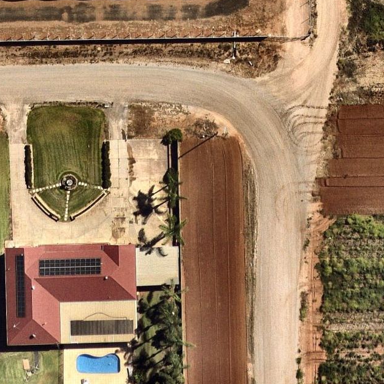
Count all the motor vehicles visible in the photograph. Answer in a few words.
0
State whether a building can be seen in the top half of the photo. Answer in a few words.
No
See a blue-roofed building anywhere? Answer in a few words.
No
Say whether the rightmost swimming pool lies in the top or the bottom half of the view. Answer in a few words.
bottom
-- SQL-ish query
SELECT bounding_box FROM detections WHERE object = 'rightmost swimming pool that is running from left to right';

[77,353,121,374]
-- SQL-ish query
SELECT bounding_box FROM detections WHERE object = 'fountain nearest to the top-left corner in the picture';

[61,174,77,191]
